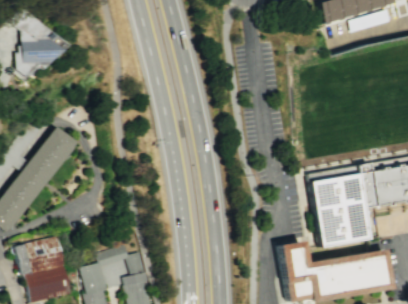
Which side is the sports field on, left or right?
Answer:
right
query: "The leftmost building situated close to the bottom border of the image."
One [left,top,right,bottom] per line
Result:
[16,238,69,304]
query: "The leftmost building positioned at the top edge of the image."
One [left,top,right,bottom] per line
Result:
[16,15,71,78]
